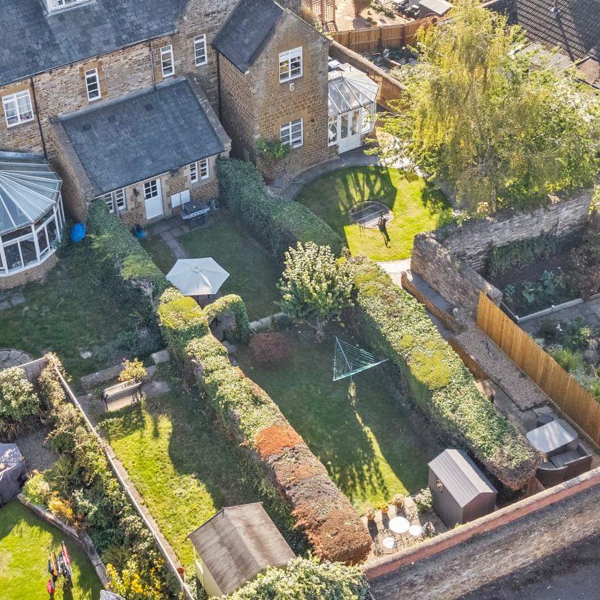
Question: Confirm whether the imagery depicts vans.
No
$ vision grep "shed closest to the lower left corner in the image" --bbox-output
[182,504,297,600]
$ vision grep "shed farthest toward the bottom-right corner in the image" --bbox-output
[422,447,498,530]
